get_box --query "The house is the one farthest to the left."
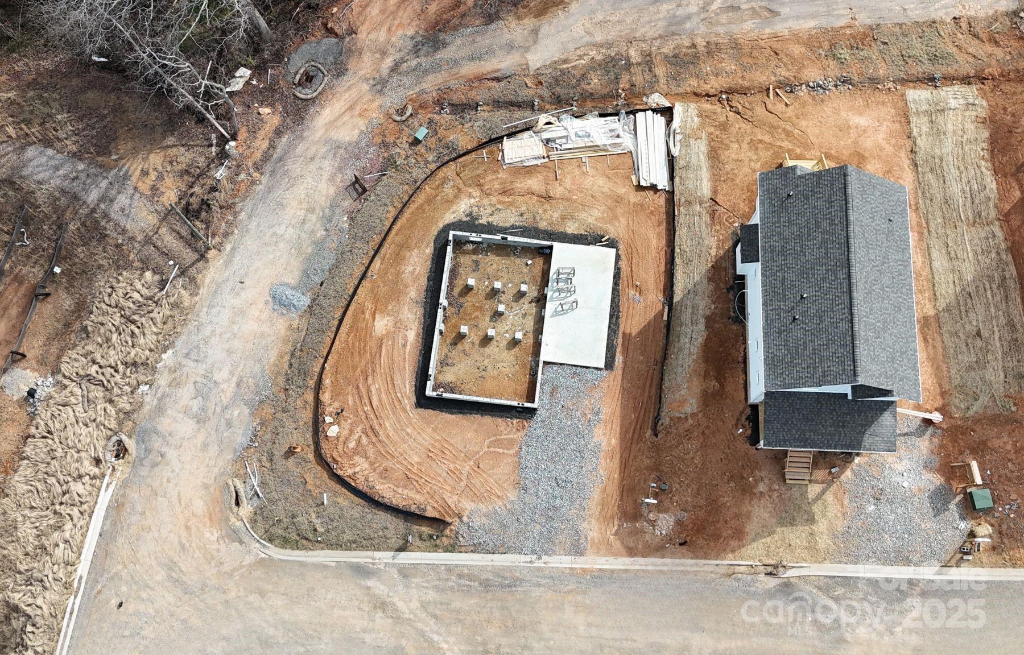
[733,146,924,485]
